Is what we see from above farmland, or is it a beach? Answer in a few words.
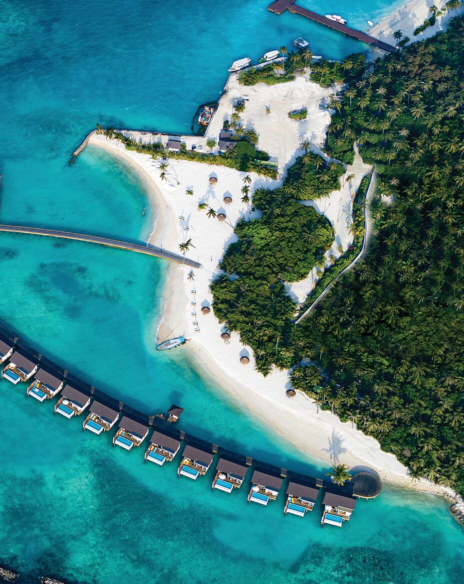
beach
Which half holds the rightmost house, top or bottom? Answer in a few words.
bottom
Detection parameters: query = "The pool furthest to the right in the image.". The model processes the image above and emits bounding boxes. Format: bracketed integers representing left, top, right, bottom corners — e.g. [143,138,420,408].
[323,513,341,527]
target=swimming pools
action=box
[213,478,231,492]
[323,513,341,527]
[285,503,303,516]
[147,450,165,465]
[30,387,47,401]
[116,435,132,449]
[86,419,103,433]
[179,465,197,479]
[250,492,268,505]
[5,370,21,384]
[58,403,74,417]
